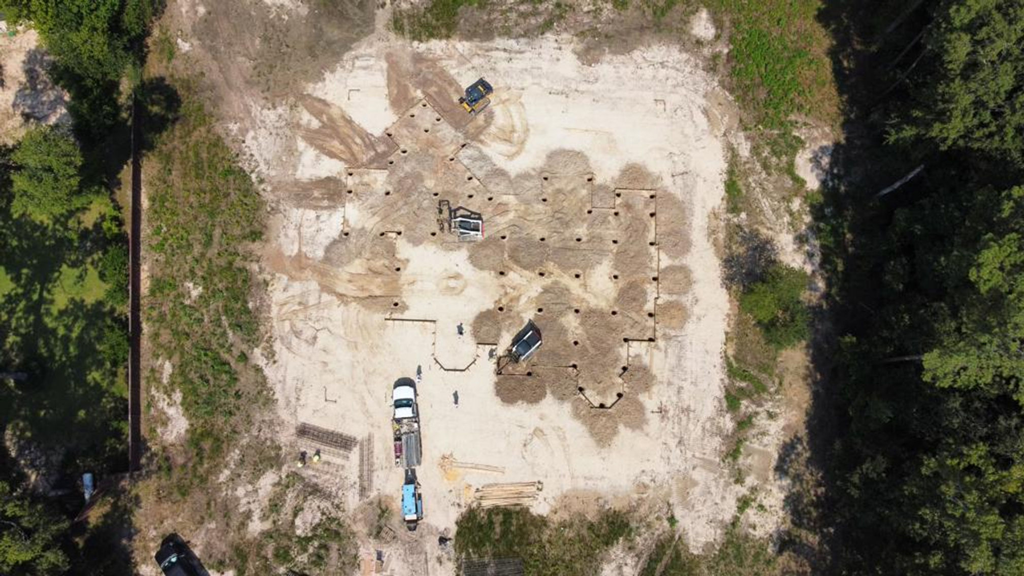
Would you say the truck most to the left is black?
Yes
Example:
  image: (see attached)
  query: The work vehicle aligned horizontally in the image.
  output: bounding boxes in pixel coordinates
[439,217,486,237]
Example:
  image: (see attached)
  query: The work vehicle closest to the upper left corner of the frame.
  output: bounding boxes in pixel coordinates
[457,79,492,117]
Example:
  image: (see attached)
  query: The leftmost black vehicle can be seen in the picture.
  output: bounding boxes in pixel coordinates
[161,538,209,576]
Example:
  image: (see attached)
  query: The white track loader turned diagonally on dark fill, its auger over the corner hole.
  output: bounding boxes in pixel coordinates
[497,330,542,372]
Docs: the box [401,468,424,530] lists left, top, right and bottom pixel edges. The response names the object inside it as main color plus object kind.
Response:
blue trailer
